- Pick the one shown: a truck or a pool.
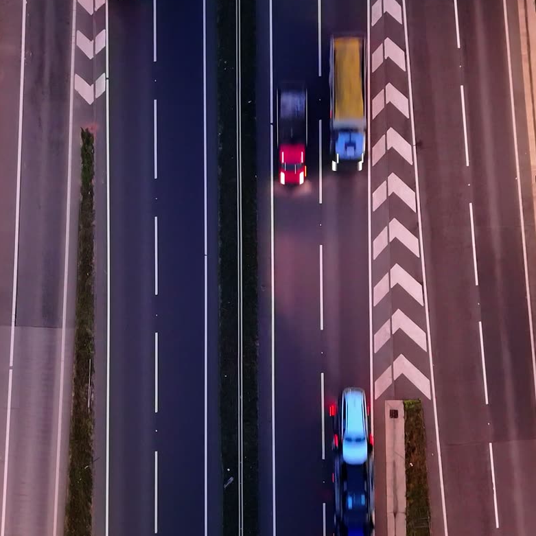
truck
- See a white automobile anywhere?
No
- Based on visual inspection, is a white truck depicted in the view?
No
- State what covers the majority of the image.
paved ground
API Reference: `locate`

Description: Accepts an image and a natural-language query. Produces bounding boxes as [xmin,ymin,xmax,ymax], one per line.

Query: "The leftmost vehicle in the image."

[277,91,308,184]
